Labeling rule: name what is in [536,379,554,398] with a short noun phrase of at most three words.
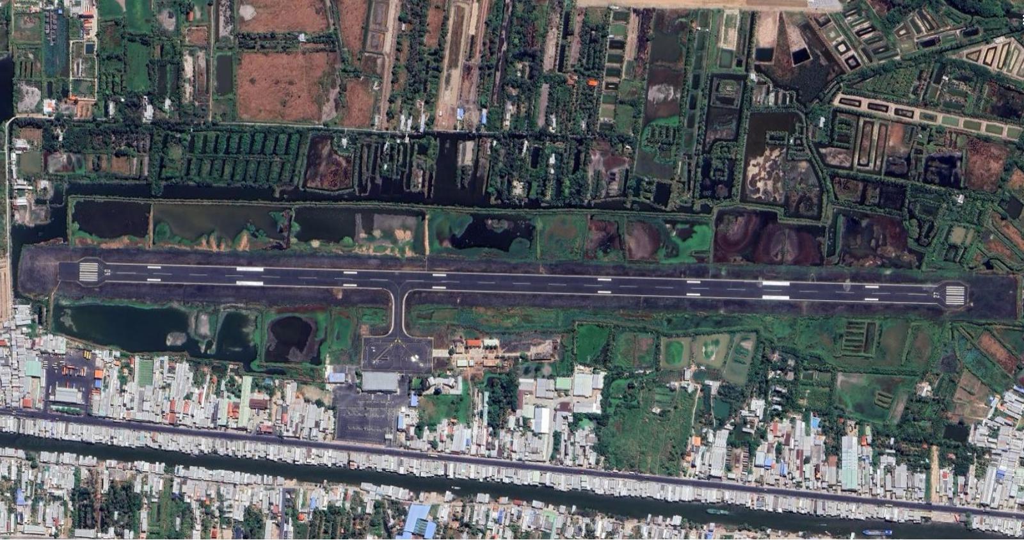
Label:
building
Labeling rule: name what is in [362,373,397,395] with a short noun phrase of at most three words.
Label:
building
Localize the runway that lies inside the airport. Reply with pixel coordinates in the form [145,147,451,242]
[59,257,968,310]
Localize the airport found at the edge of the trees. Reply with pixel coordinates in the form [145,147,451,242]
[19,246,1019,371]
